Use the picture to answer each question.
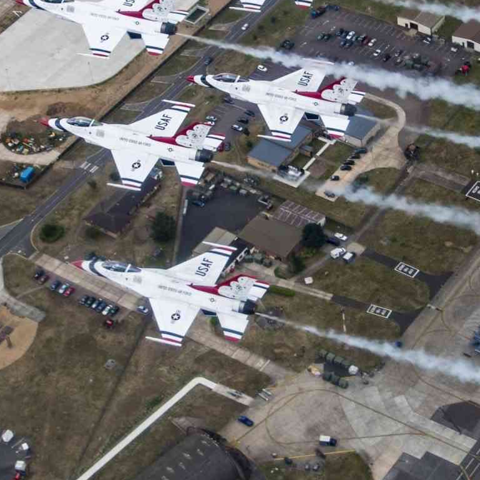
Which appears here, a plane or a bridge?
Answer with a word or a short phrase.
plane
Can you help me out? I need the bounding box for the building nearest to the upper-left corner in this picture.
[83,177,162,239]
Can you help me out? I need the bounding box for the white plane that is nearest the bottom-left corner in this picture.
[68,241,269,347]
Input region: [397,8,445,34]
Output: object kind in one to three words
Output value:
building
